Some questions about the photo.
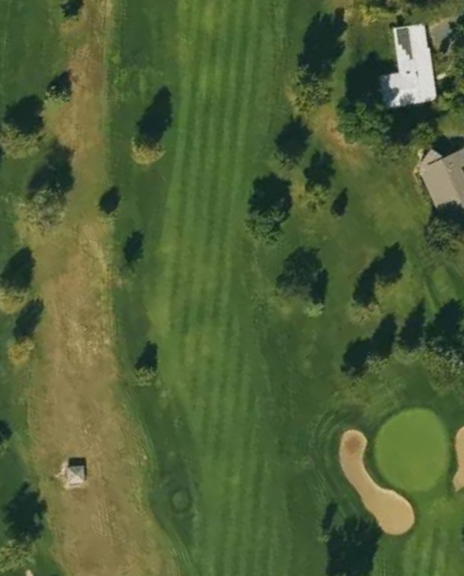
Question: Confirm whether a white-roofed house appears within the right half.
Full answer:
Yes, a white-roofed house can be seen within the right half.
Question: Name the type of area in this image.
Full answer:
The picture captures a golf course.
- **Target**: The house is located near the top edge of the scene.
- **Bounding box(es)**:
[382,23,436,108]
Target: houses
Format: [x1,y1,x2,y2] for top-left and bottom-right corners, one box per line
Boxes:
[417,147,464,224]
[382,23,436,108]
